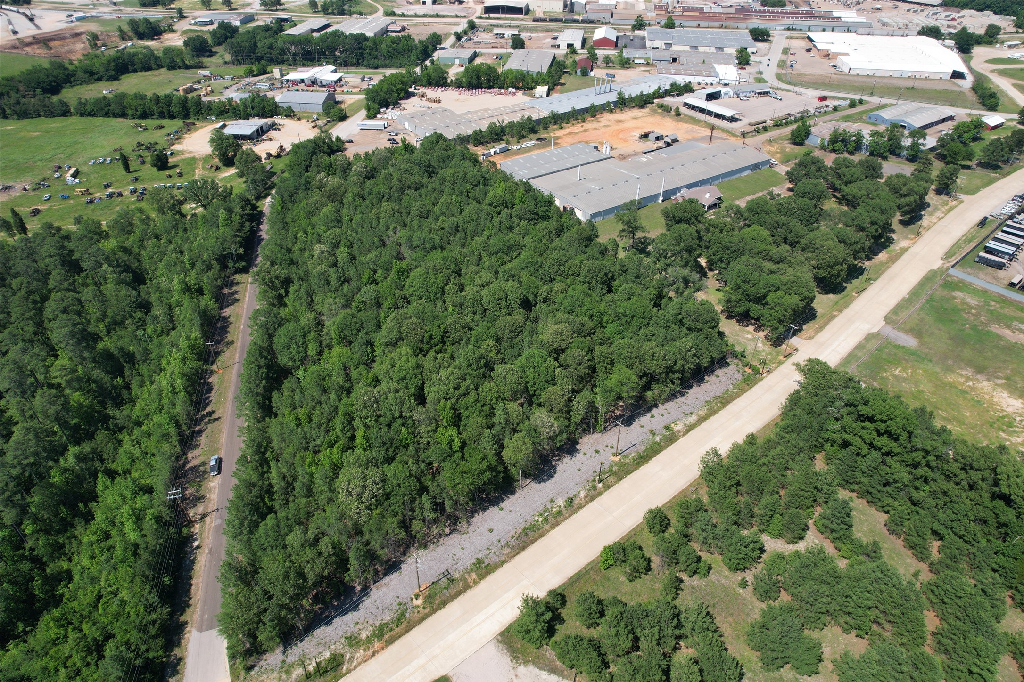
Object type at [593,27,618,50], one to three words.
barn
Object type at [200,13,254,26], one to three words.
building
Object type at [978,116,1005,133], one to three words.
shed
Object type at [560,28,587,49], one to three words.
shed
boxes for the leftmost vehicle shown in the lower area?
[207,453,220,475]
